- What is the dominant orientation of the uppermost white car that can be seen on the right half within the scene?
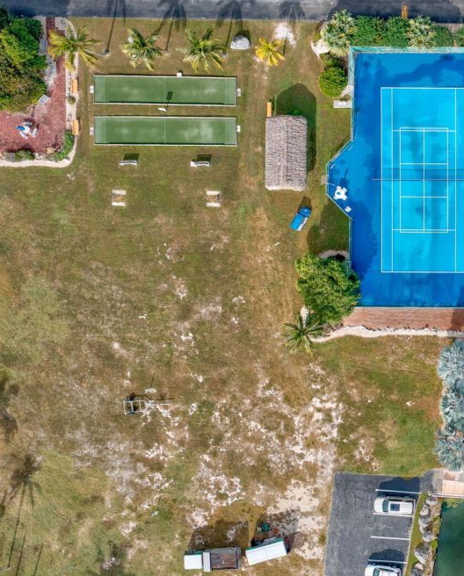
horizontally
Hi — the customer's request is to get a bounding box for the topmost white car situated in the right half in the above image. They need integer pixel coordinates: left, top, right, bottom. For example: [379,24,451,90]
[374,495,415,515]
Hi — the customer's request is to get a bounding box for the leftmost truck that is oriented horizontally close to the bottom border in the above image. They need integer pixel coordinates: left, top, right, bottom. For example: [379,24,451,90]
[183,550,239,575]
